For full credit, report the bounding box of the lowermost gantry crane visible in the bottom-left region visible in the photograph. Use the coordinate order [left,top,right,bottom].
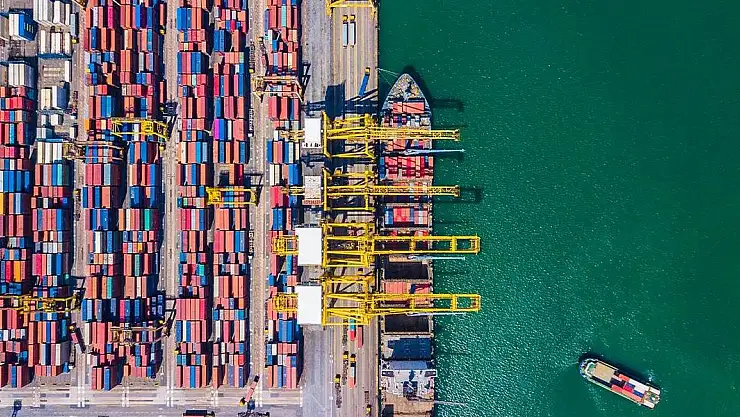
[111,315,171,345]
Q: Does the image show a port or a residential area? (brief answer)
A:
port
